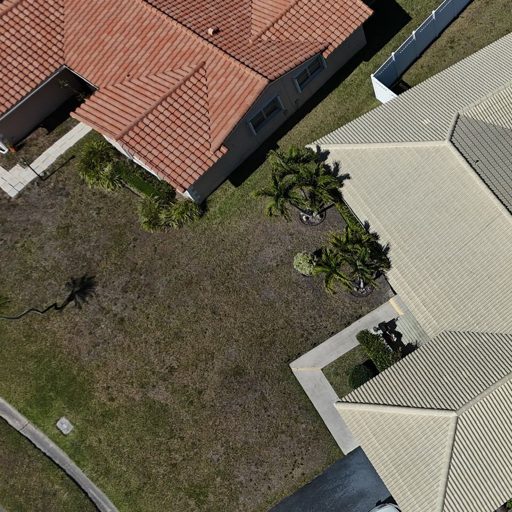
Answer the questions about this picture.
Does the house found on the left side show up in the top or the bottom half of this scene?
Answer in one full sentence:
The top half of the photo is where the house found on the left side is.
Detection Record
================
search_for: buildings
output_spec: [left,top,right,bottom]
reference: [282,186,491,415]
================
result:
[0,0,375,205]
[307,32,512,512]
